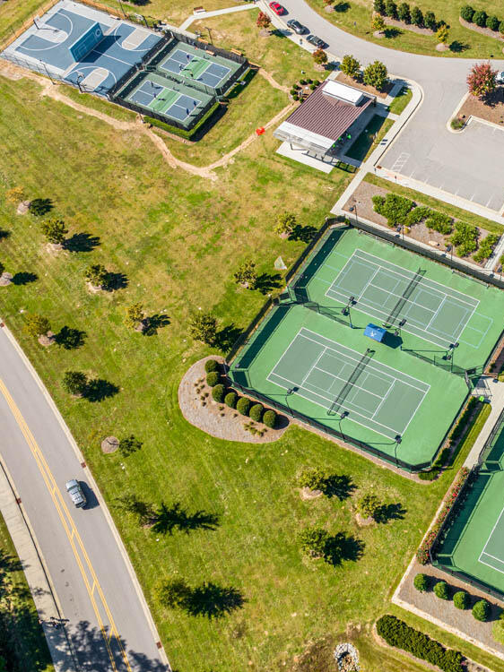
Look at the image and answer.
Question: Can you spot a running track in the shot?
No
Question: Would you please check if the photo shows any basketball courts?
Yes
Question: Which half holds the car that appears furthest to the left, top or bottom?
bottom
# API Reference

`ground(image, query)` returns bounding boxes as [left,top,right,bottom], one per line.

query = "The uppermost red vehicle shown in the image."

[267,1,286,17]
